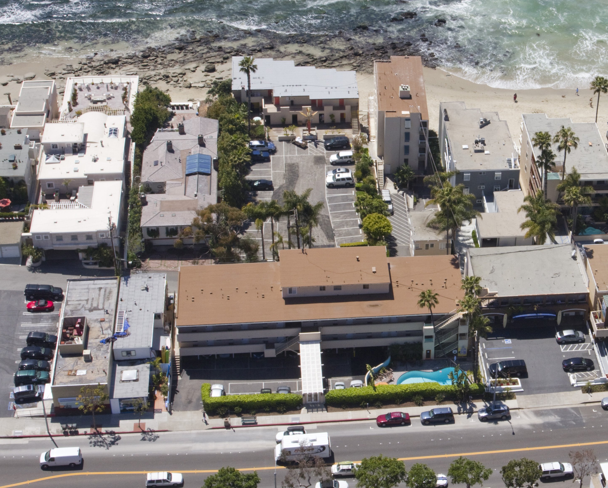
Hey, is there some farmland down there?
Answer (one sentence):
No, the scene doesn't show any farmland.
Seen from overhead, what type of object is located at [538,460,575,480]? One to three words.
car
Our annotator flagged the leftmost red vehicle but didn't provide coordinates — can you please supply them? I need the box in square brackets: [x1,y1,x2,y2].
[23,299,56,311]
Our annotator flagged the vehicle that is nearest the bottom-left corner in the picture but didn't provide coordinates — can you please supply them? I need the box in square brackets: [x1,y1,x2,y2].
[39,446,83,468]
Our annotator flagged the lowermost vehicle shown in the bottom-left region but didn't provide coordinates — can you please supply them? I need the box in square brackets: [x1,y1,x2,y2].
[146,470,182,487]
